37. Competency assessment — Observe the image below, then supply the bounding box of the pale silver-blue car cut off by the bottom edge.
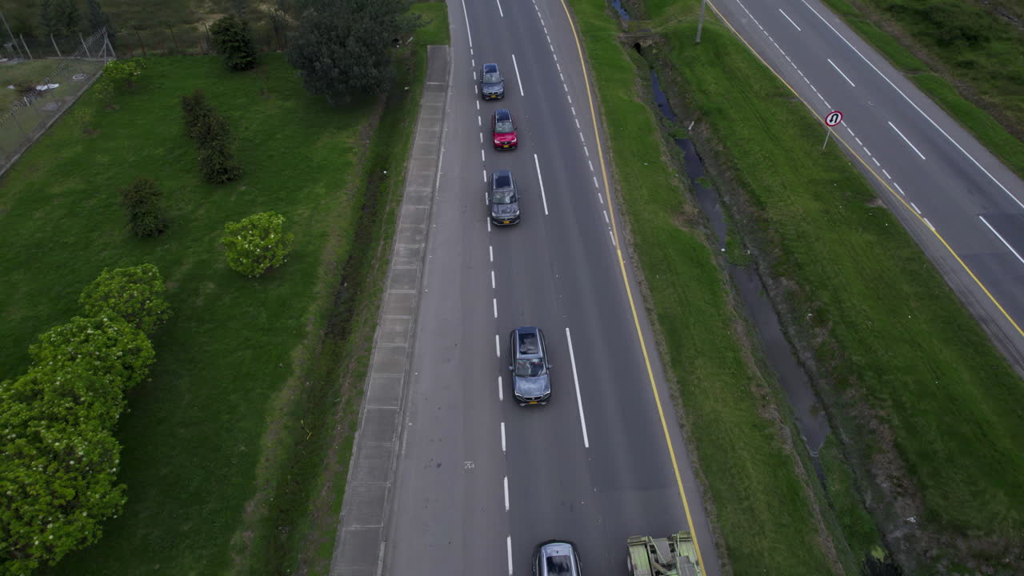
[533,540,586,576]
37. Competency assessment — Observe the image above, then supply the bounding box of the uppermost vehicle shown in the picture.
[479,62,506,97]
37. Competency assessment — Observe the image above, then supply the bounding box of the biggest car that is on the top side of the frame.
[487,170,523,223]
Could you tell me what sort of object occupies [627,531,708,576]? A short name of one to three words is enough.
trailer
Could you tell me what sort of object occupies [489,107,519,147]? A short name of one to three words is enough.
car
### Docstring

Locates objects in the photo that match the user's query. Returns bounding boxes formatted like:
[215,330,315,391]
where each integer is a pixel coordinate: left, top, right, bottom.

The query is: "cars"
[533,540,586,576]
[479,62,506,97]
[487,170,523,223]
[507,325,555,403]
[489,107,519,147]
